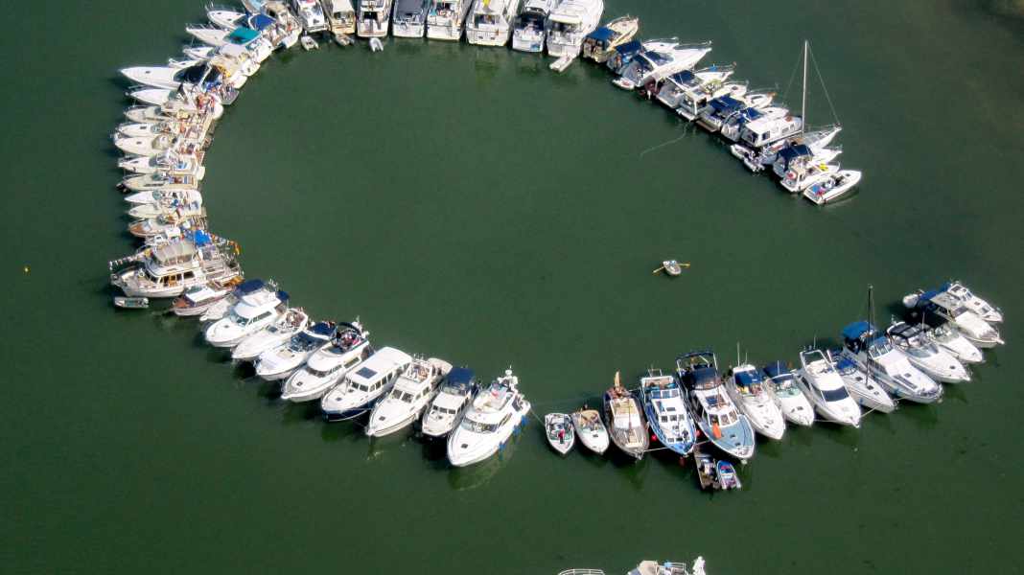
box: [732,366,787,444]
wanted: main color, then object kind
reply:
white boat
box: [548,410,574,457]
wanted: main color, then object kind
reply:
white boat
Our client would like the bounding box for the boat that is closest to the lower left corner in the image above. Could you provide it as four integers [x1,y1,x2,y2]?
[114,295,151,309]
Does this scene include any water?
Yes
